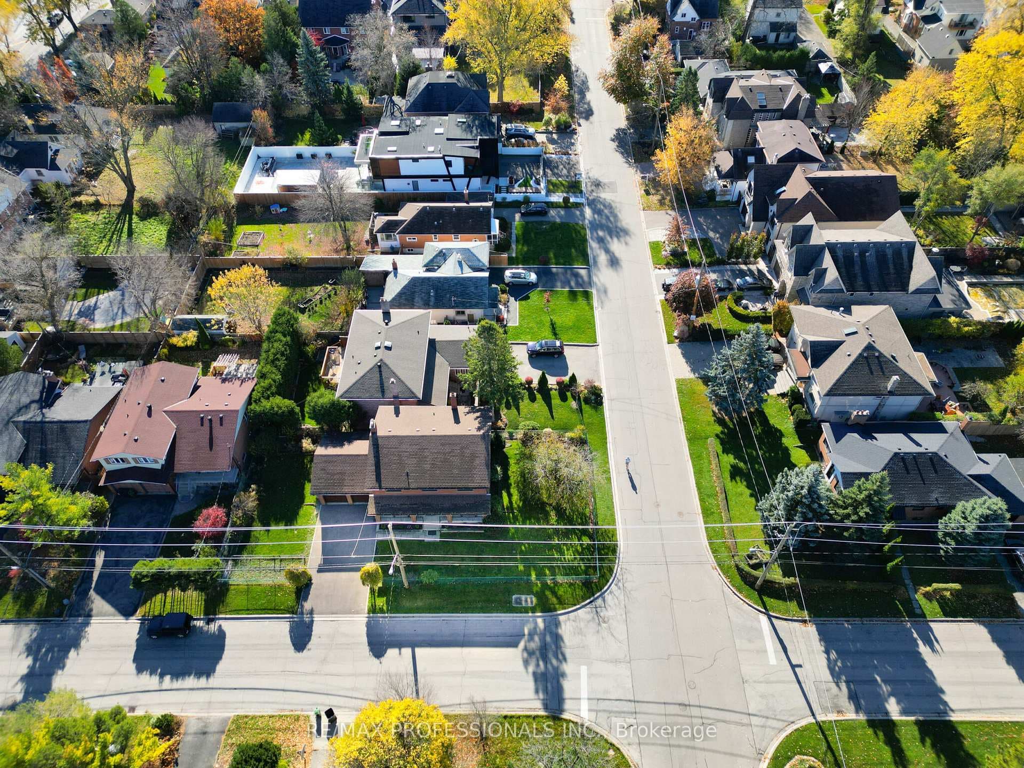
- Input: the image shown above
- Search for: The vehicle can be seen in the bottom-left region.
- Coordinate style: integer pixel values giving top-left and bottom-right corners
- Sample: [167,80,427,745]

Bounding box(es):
[139,609,198,639]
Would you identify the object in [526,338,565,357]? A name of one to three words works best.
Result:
car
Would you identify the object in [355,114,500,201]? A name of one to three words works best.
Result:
house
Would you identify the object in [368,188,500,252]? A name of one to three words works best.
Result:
house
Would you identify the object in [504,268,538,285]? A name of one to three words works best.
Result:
car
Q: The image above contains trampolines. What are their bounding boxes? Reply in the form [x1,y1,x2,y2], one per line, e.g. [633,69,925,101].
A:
[37,347,76,372]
